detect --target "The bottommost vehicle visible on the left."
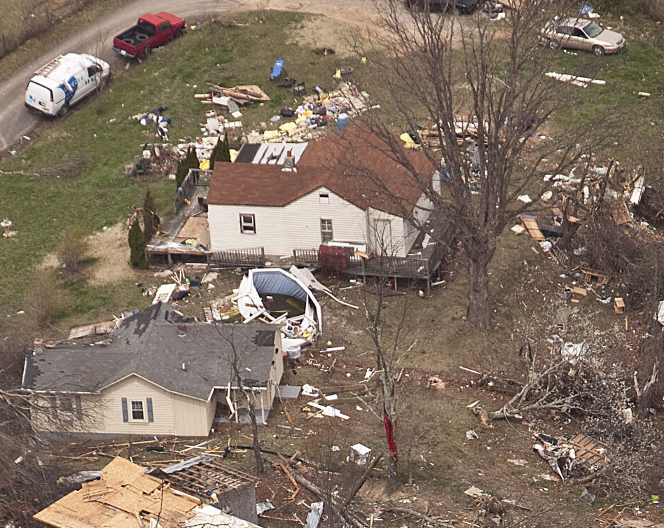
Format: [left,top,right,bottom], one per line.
[25,58,109,117]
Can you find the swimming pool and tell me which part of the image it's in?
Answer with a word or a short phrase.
center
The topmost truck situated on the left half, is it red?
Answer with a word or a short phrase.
Yes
